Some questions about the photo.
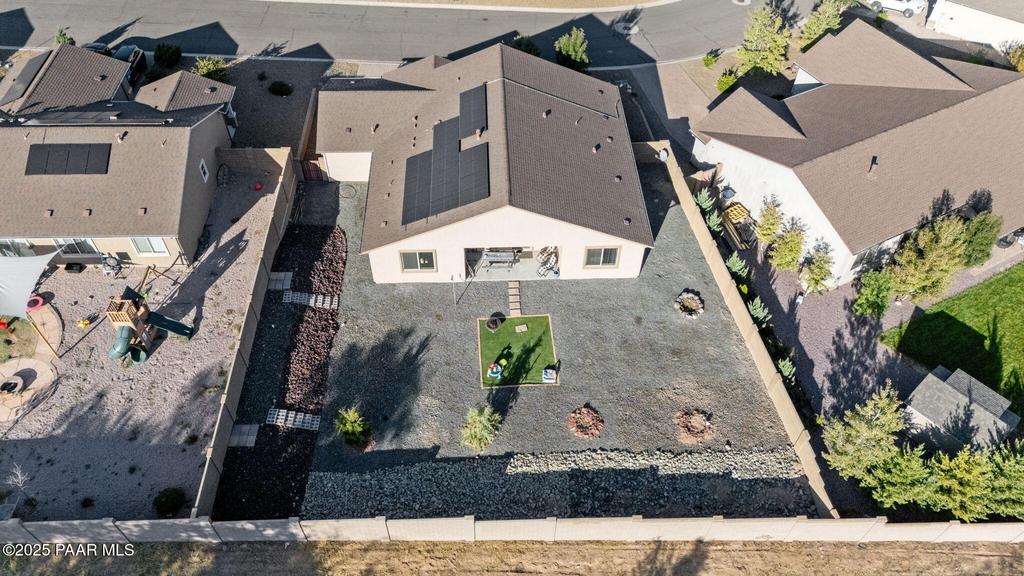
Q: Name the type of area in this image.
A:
residential area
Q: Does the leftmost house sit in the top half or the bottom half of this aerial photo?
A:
top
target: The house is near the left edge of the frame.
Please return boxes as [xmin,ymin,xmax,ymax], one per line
[0,43,250,267]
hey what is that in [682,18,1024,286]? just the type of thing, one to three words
house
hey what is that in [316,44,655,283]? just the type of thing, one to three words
house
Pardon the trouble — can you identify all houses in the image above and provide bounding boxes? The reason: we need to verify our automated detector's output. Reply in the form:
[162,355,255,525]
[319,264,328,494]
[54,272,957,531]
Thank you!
[925,0,1024,51]
[0,43,250,267]
[316,44,655,283]
[682,18,1024,286]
